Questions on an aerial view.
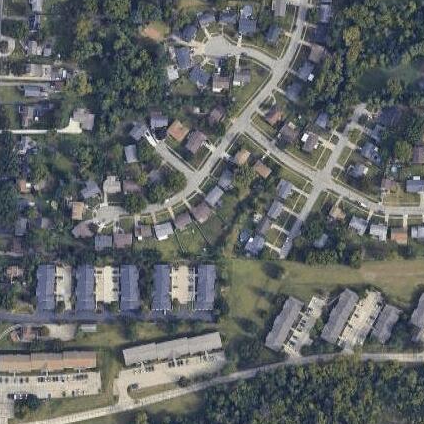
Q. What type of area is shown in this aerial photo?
residential area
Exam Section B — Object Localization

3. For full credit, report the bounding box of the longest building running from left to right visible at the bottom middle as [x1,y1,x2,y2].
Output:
[123,332,223,369]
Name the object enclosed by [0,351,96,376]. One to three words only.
building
